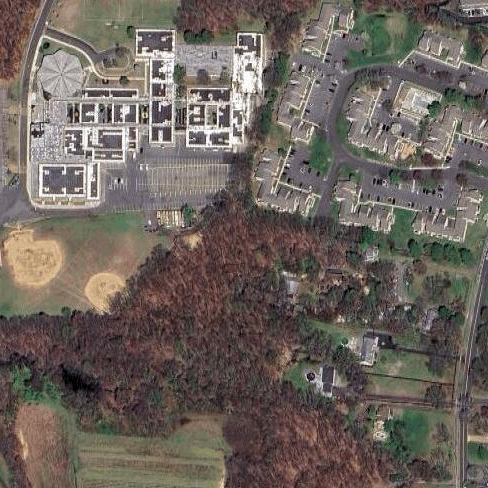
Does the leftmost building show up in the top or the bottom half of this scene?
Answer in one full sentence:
You can find the leftmost building in the top half.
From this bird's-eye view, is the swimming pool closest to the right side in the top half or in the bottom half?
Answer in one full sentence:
The top half of the photo is where the swimming pool closest to the right side is.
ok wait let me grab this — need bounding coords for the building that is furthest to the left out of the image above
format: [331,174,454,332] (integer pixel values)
[31,29,264,200]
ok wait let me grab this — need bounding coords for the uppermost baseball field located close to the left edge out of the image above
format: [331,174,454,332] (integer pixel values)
[1,227,63,286]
